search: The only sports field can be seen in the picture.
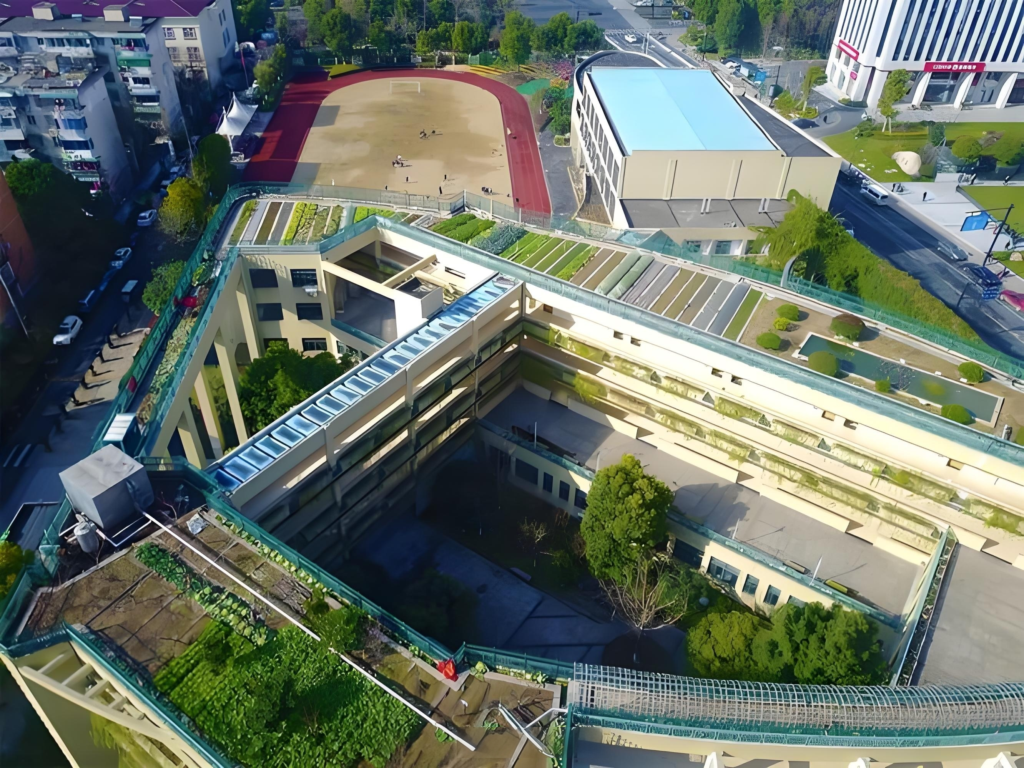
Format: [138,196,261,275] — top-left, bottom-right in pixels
[290,77,516,224]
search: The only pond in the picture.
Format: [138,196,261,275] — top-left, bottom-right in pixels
[796,335,1007,431]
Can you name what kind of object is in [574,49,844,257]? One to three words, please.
building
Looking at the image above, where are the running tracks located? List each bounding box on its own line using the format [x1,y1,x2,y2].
[237,68,554,232]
